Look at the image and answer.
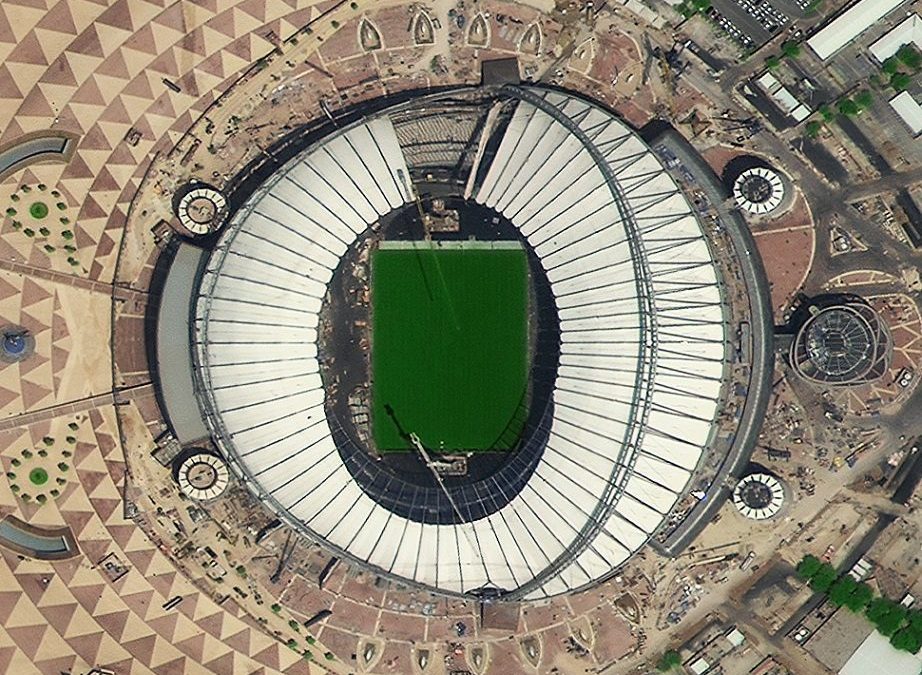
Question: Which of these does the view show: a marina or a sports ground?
sports ground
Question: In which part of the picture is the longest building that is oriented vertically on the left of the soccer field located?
left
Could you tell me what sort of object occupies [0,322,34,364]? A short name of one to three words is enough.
fountain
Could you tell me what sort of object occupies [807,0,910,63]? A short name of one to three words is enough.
shed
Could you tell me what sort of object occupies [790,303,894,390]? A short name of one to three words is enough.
building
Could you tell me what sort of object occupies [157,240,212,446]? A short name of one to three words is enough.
building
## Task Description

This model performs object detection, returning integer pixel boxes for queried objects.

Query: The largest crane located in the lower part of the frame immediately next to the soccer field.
[411,436,475,550]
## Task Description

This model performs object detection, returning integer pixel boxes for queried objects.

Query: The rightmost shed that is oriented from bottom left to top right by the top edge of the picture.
[869,12,922,65]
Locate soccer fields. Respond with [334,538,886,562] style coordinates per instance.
[371,238,531,456]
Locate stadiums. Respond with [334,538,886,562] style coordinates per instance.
[195,85,729,602]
